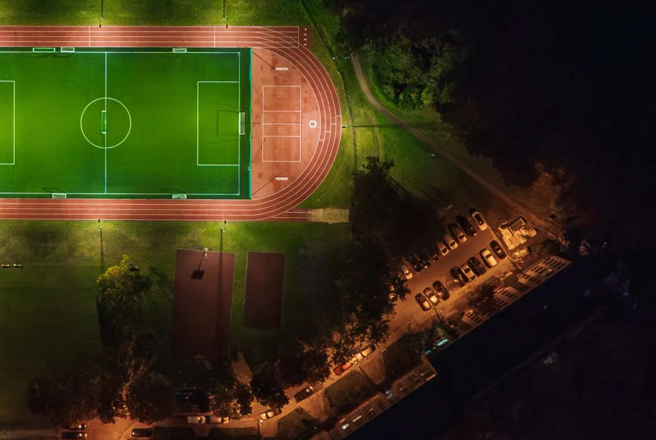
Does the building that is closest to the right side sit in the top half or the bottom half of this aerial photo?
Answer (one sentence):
The building that is closest to the right side is in the bottom half of the image.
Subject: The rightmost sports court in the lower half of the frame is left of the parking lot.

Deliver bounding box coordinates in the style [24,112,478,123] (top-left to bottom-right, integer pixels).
[243,252,285,329]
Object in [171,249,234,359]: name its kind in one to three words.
sports court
